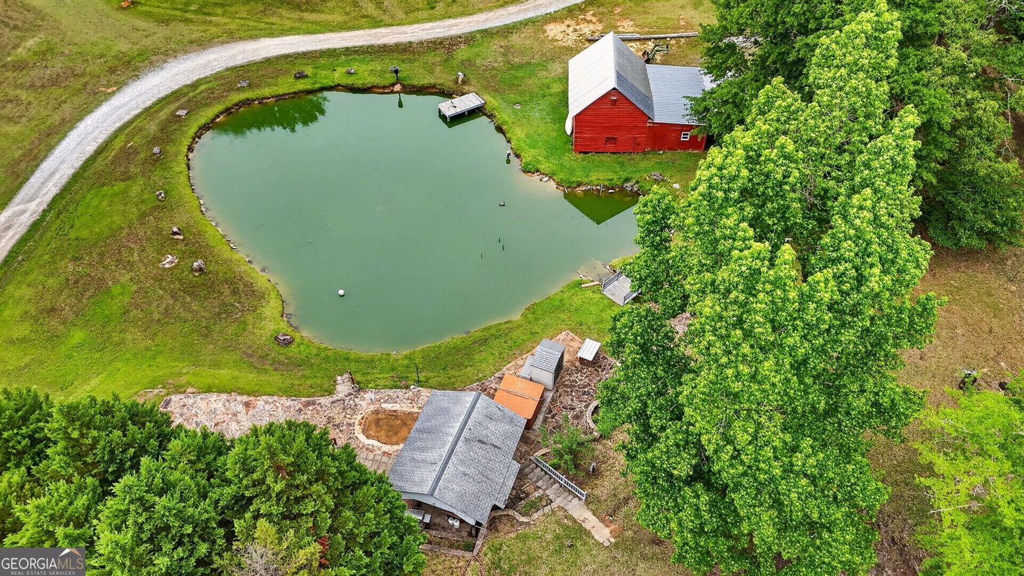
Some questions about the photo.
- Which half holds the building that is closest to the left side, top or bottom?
bottom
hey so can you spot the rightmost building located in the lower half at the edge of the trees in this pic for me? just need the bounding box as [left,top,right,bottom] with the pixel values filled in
[577,338,601,370]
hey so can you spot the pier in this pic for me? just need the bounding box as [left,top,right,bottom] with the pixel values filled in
[438,92,485,124]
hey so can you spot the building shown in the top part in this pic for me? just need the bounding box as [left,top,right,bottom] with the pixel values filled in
[570,28,717,155]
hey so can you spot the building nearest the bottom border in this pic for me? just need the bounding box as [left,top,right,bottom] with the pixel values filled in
[381,391,528,549]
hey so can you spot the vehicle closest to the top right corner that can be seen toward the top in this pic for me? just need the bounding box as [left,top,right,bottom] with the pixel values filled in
[637,39,674,60]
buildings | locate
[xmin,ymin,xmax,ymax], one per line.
[381,391,528,549]
[529,341,565,388]
[570,28,717,155]
[577,338,601,370]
